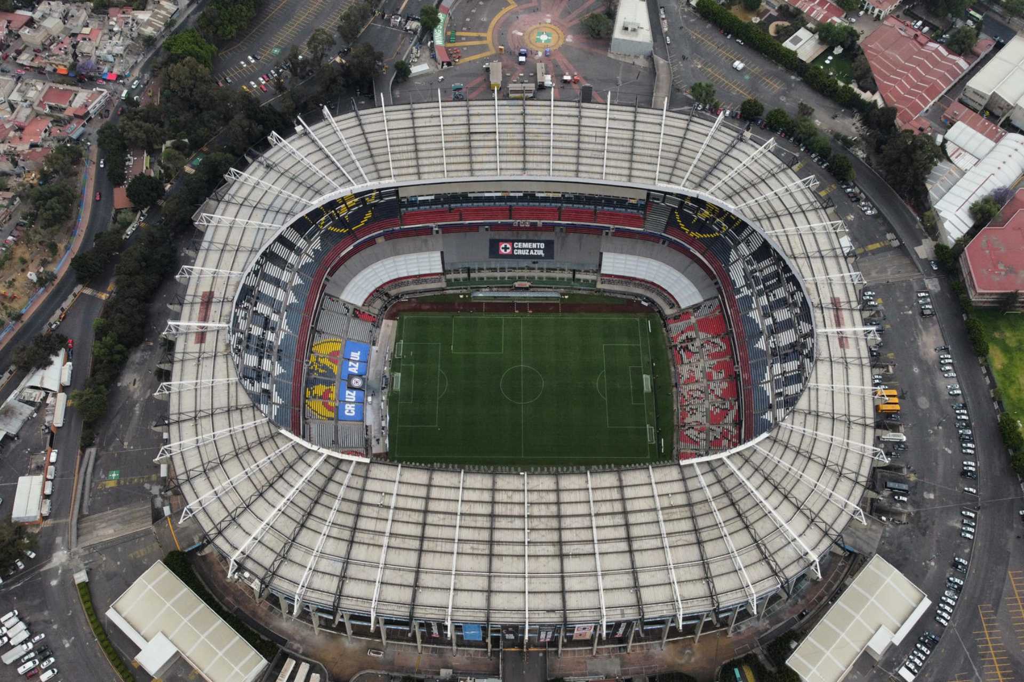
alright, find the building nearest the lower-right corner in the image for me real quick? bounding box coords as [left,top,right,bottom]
[781,555,931,682]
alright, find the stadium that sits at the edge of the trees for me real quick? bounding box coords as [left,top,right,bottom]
[152,83,891,659]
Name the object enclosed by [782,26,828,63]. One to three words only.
building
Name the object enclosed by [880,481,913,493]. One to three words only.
vehicle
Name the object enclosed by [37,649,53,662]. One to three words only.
vehicle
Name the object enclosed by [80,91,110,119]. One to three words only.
house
